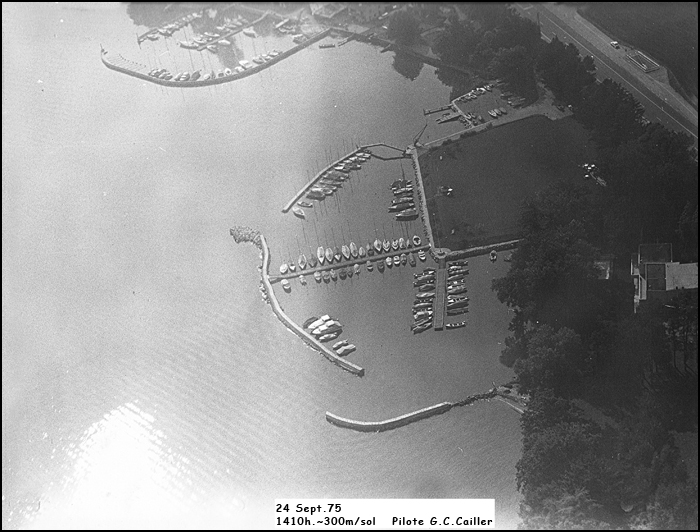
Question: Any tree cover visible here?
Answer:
Yes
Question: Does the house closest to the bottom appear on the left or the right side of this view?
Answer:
right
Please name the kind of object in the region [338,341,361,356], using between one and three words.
boat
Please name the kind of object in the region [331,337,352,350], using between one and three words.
boat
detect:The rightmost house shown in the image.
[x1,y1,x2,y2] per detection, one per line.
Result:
[631,243,700,308]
